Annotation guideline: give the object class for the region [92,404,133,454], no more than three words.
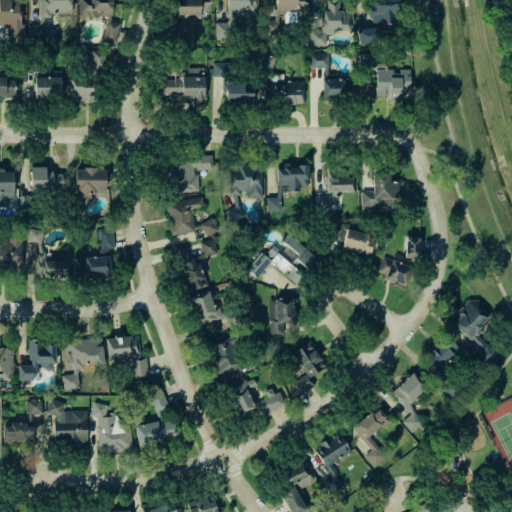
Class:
house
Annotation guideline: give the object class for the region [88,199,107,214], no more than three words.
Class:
swimming pool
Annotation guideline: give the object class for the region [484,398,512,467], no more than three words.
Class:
tennis court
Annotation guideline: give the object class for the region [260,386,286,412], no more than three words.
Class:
building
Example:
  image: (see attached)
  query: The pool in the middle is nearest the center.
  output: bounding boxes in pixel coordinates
[263,230,284,246]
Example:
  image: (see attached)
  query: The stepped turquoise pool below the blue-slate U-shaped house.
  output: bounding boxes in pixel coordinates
[34,375,57,391]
